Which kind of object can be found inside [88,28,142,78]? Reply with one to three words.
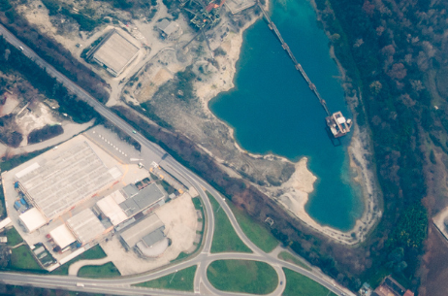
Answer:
building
